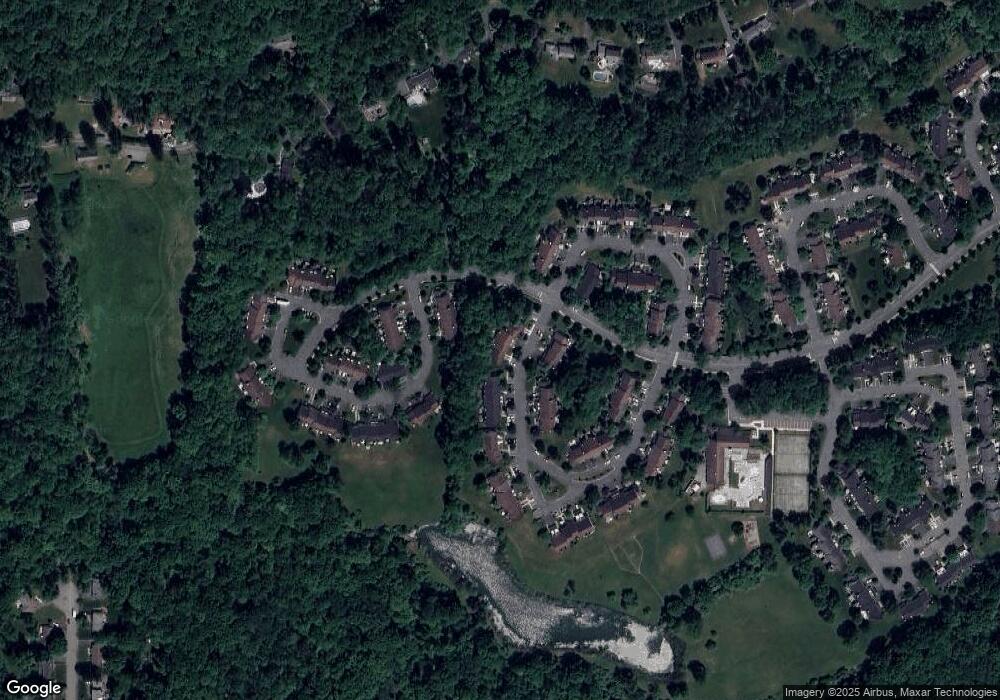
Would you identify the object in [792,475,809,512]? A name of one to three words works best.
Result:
tennis court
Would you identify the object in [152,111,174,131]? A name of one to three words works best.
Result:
house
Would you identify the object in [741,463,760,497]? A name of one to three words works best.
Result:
swimming pool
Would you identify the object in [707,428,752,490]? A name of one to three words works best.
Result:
building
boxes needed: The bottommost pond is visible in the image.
[421,523,674,673]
